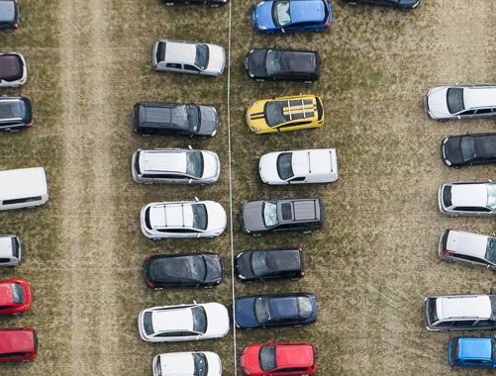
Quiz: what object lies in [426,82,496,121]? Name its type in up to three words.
car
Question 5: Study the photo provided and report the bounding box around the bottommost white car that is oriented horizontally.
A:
[153,348,222,376]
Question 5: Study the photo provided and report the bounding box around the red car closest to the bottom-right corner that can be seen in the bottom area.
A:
[240,341,318,376]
